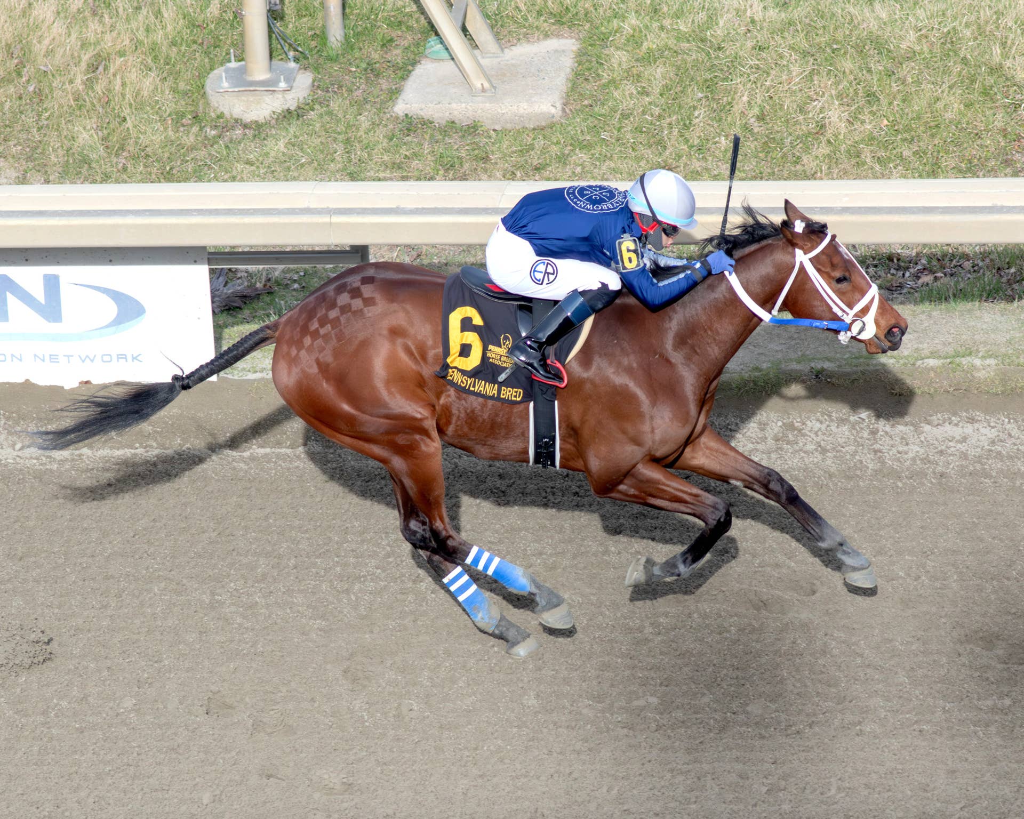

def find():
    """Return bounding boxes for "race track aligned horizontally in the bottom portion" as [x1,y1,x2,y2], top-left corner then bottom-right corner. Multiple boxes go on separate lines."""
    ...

[0,373,1024,819]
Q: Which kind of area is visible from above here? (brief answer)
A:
sports ground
